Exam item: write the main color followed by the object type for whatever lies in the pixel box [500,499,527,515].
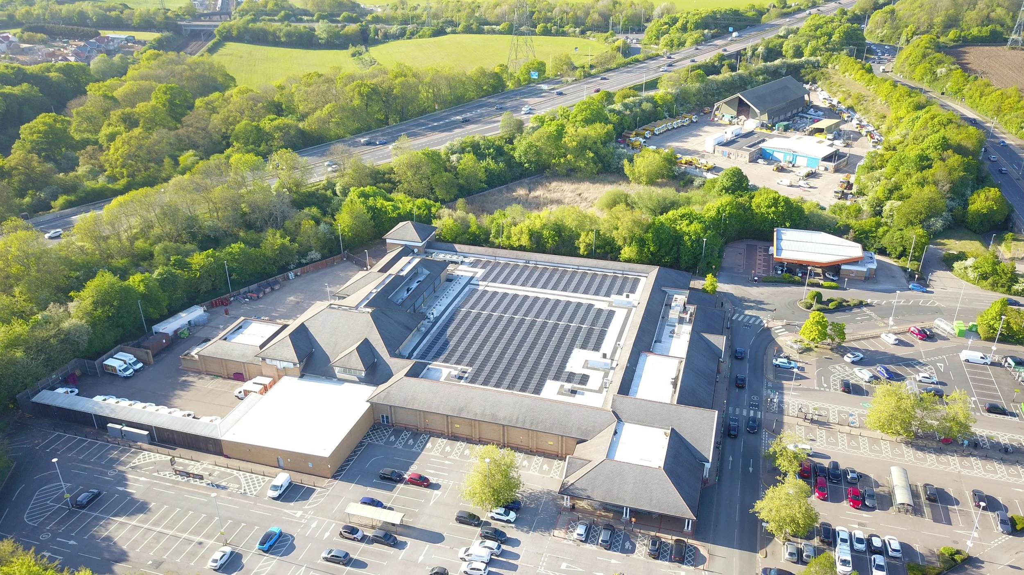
blue car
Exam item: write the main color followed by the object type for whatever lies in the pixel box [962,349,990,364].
white vehicle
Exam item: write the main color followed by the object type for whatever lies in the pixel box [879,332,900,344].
white vehicle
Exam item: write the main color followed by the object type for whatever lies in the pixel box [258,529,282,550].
blue car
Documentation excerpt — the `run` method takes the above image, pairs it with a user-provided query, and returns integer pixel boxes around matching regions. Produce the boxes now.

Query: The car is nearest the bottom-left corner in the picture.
[72,489,101,510]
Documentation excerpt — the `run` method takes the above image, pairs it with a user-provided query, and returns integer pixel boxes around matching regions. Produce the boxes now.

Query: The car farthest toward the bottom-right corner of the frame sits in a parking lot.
[993,511,1013,535]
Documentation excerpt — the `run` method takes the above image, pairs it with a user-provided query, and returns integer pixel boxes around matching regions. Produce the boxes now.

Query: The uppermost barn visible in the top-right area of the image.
[712,75,809,122]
